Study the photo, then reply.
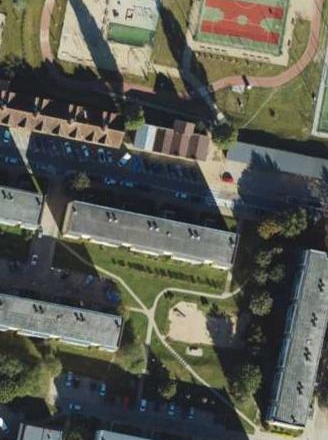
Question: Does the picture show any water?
No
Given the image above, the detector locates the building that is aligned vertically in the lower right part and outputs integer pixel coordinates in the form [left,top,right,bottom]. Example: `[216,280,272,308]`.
[270,249,328,426]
